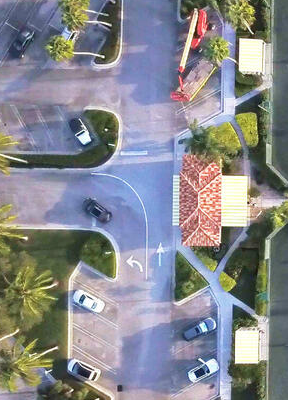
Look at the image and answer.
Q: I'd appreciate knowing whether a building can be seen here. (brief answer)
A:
Yes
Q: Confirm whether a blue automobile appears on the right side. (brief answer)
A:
Yes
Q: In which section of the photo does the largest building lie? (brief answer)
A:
right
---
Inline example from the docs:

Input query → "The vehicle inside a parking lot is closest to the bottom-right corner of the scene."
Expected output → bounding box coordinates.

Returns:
[186,358,220,382]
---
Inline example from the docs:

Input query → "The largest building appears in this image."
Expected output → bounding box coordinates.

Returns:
[172,154,253,246]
